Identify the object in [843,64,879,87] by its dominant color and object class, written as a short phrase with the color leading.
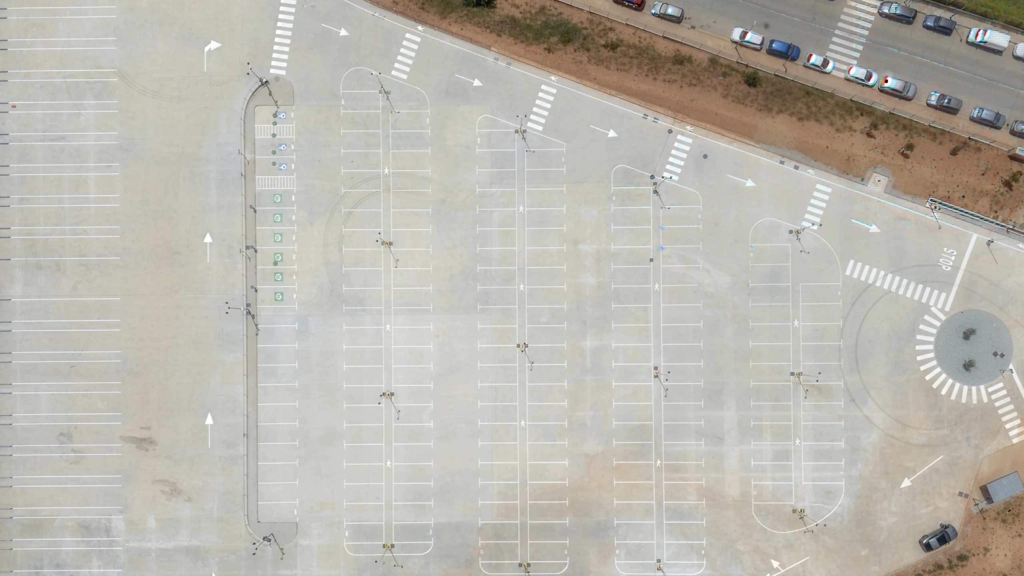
white car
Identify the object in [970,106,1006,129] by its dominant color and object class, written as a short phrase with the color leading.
gray car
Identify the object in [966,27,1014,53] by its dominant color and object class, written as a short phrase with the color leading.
white vehicle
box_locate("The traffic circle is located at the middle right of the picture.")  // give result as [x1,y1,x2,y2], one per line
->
[933,307,1014,387]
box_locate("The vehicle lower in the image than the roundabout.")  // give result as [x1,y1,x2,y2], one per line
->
[917,524,957,551]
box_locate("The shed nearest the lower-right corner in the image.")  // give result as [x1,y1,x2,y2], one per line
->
[979,471,1024,505]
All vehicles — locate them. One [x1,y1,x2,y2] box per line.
[802,52,836,74]
[1009,119,1024,137]
[966,27,1014,53]
[1014,44,1024,60]
[651,1,686,23]
[878,76,918,100]
[730,27,765,50]
[917,524,957,551]
[922,13,959,36]
[765,39,801,61]
[614,0,646,10]
[878,0,919,24]
[843,64,879,87]
[926,92,964,115]
[970,106,1006,129]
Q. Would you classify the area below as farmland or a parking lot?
parking lot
